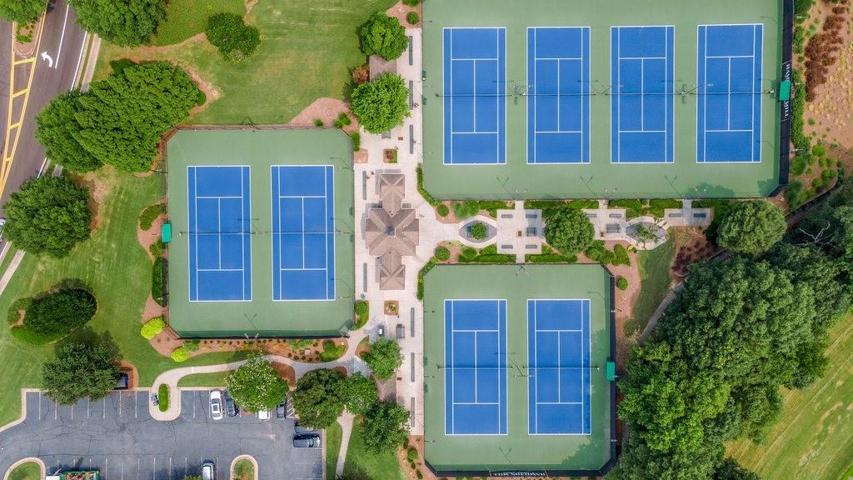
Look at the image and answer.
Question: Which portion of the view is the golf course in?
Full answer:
You can find the golf course in the bottom right area of the picture.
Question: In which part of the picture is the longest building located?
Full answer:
The longest building appears toward the center of the photo.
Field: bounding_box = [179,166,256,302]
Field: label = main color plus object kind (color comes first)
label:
blue tennis court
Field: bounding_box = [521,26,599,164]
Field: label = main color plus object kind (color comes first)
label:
blue tennis court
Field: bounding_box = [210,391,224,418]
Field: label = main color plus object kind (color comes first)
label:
white car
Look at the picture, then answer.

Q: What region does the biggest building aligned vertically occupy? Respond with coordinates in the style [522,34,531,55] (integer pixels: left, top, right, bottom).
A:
[366,172,420,291]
